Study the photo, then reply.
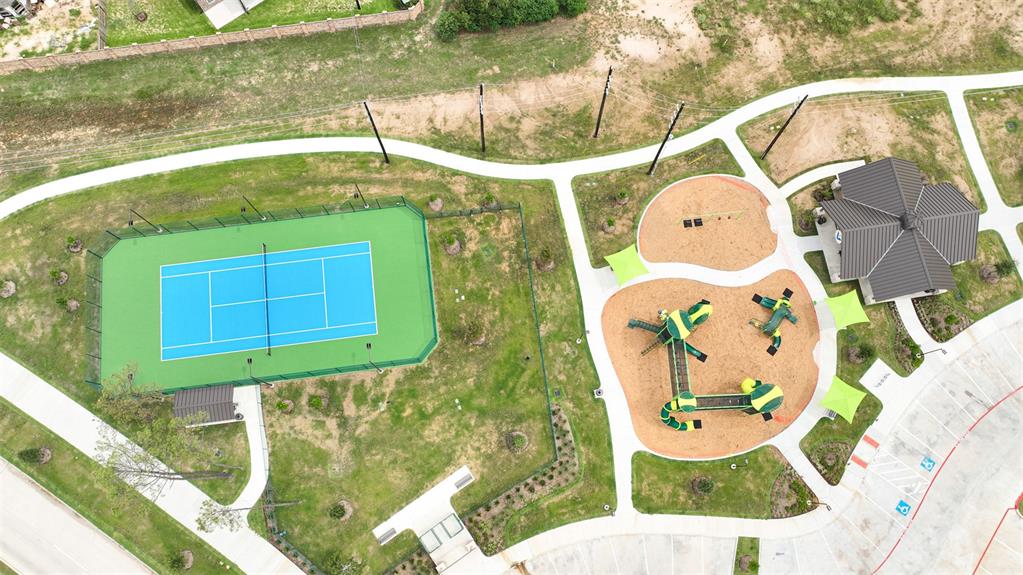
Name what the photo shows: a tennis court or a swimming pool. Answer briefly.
tennis court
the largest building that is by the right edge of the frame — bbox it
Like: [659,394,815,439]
[812,157,979,304]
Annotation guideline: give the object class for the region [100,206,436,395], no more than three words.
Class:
tennis court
